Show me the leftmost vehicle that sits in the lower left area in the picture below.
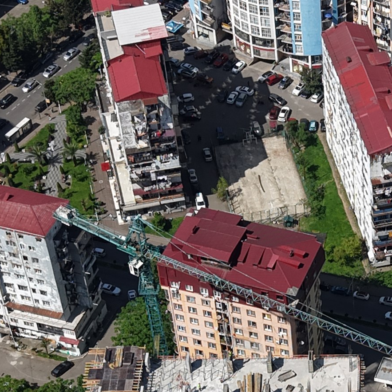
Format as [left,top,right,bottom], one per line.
[50,361,76,380]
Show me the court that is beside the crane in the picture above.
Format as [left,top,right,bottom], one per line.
[215,135,305,221]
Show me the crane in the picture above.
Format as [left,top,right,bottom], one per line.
[49,208,392,364]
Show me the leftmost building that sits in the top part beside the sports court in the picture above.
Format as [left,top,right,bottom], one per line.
[93,0,200,239]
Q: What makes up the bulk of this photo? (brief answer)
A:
buildings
